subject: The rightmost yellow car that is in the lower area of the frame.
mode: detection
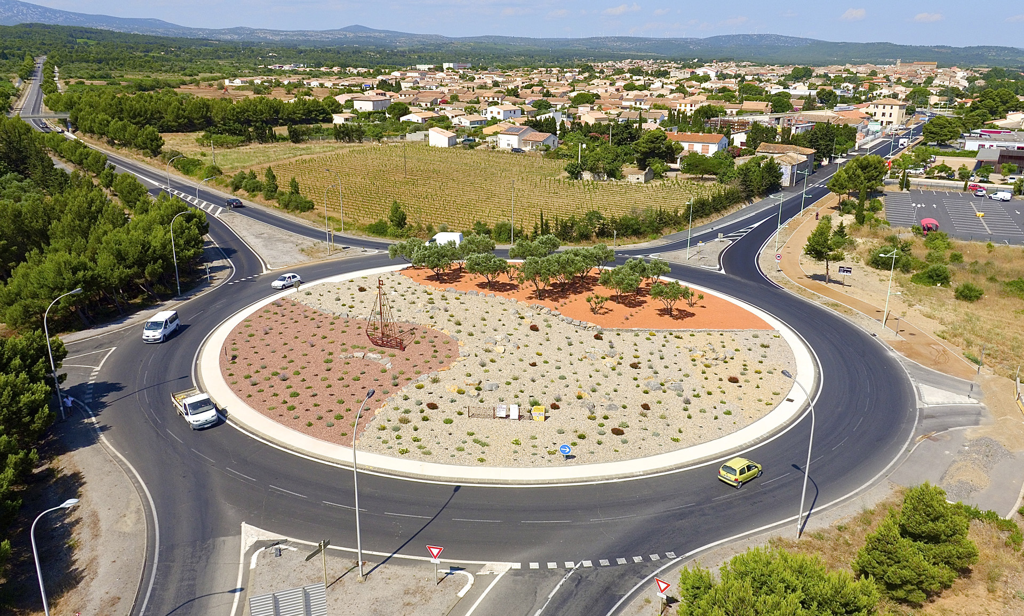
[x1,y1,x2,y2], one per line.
[718,457,764,489]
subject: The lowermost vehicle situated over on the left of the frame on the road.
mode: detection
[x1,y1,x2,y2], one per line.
[172,391,219,430]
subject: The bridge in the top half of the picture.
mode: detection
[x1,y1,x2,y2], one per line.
[0,110,80,133]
